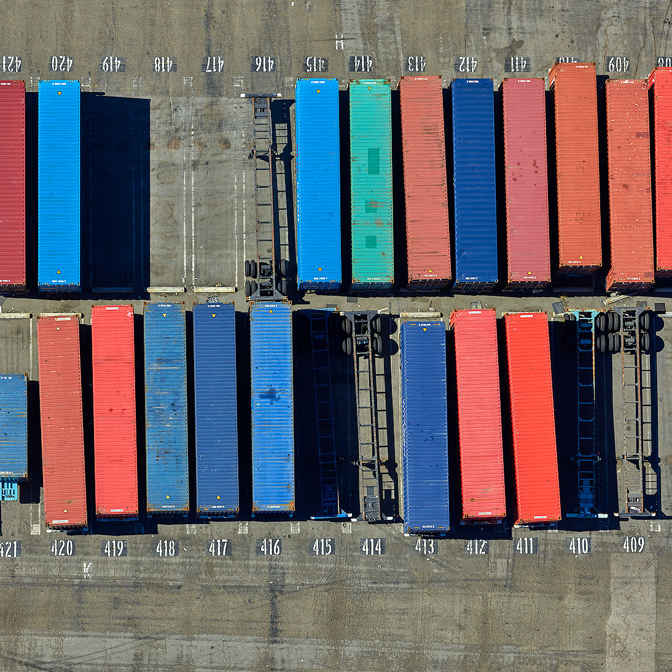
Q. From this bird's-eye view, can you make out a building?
No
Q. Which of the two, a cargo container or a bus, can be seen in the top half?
cargo container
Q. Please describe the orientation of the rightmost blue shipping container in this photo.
up and down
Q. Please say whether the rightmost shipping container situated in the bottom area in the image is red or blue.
red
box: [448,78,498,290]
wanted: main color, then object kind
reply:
blue shipping container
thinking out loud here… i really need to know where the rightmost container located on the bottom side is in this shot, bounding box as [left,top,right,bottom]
[501,312,560,526]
